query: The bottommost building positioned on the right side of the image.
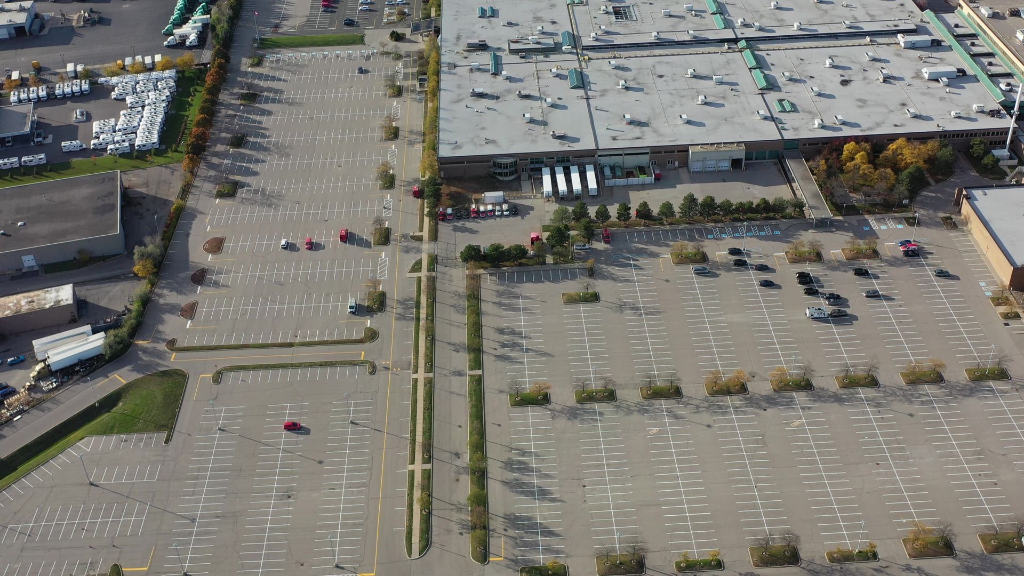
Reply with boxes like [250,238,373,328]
[962,184,1024,289]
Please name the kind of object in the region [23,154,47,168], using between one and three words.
camper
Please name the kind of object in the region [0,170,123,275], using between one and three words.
building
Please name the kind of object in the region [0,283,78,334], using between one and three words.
shed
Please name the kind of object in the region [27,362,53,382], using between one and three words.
vehicle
